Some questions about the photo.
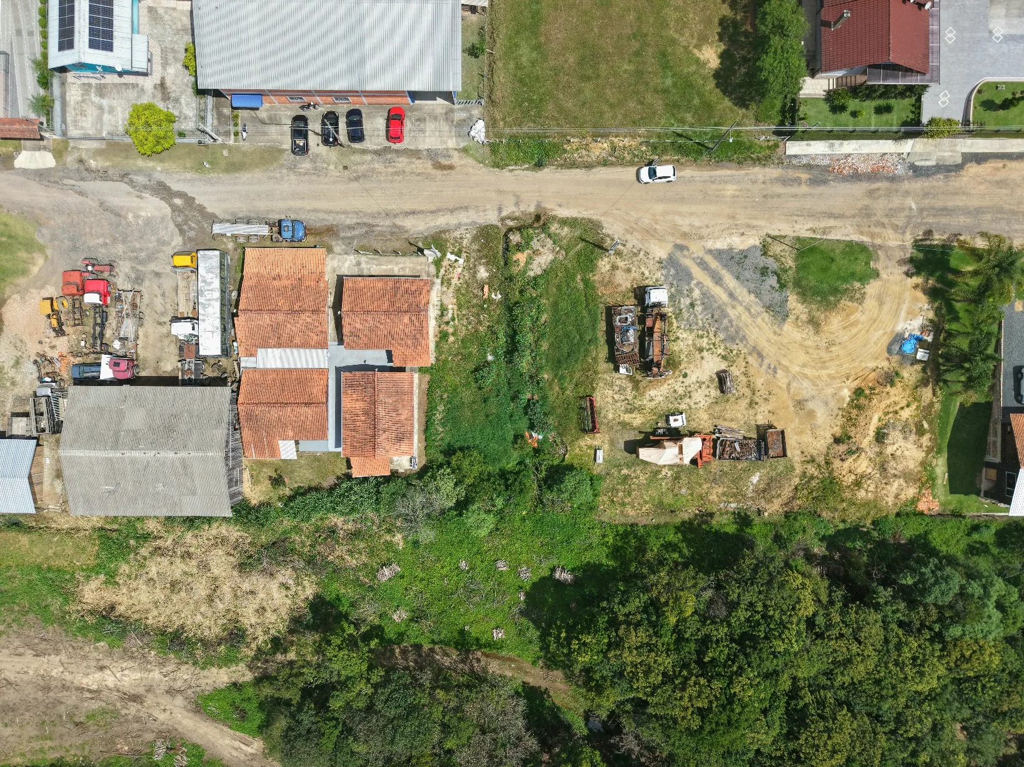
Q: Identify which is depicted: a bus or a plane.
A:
bus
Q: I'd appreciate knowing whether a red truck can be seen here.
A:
Yes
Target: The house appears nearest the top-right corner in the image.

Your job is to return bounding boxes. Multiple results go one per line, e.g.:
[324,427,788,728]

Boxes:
[812,0,942,100]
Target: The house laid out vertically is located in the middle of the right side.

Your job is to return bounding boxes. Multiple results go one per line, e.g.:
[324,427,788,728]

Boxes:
[979,413,1024,516]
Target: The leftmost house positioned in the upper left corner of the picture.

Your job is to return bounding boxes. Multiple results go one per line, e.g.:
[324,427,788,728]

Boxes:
[48,0,160,81]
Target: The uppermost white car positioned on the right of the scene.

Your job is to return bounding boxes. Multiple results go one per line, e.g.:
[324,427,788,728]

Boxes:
[640,162,677,182]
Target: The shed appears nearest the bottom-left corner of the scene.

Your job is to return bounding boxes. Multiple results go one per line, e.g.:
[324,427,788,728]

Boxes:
[0,439,55,513]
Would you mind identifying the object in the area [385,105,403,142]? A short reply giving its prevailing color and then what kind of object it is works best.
red car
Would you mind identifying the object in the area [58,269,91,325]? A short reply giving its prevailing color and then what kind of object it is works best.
red truck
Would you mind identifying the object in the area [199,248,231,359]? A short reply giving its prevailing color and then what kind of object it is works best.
white bus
